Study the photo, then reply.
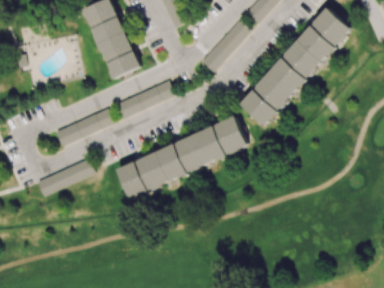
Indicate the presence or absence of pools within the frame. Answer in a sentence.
Yes, the picture does show a pool.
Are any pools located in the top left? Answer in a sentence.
Yes, a pool is visible in the top left.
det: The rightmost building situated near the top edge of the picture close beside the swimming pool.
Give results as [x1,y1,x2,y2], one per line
[83,0,141,82]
